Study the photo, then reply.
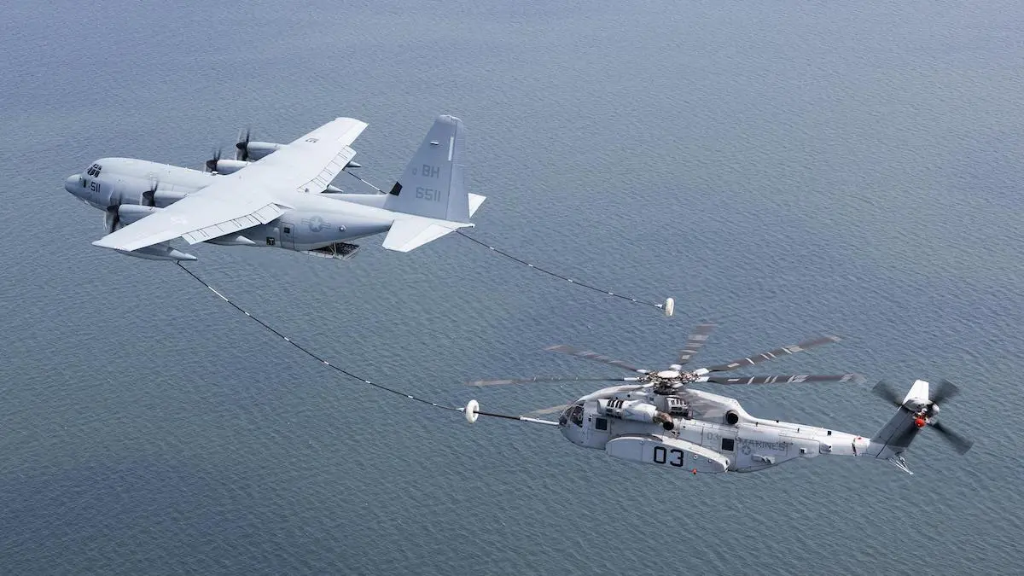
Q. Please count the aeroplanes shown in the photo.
1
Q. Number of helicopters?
one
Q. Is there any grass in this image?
No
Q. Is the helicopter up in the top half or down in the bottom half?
bottom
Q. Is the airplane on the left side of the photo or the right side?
left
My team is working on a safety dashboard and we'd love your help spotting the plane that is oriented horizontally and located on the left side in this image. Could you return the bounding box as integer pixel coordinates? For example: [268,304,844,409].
[64,117,485,264]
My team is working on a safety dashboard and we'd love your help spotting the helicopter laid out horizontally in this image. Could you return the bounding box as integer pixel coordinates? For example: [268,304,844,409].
[471,326,974,475]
